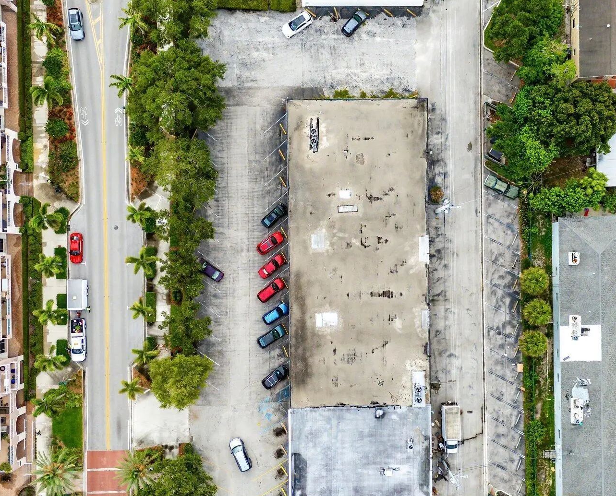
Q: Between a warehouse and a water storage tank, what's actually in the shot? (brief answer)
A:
warehouse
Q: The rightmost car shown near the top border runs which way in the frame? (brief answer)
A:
diagonally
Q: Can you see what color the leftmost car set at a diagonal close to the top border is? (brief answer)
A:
white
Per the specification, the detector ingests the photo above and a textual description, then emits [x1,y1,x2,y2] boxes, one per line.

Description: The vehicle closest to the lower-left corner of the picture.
[68,319,87,361]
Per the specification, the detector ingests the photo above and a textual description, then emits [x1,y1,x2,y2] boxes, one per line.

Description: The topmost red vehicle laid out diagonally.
[255,230,285,256]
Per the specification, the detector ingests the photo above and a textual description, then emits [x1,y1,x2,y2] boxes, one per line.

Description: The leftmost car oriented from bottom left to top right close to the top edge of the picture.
[282,10,314,38]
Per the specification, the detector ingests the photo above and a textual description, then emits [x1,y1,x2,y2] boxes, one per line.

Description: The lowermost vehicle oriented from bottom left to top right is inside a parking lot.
[260,363,290,391]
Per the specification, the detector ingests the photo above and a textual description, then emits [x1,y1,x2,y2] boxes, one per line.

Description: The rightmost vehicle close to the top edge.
[341,9,367,37]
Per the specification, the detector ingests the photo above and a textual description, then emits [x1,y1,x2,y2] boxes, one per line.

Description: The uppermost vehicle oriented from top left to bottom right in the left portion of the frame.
[195,257,226,283]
